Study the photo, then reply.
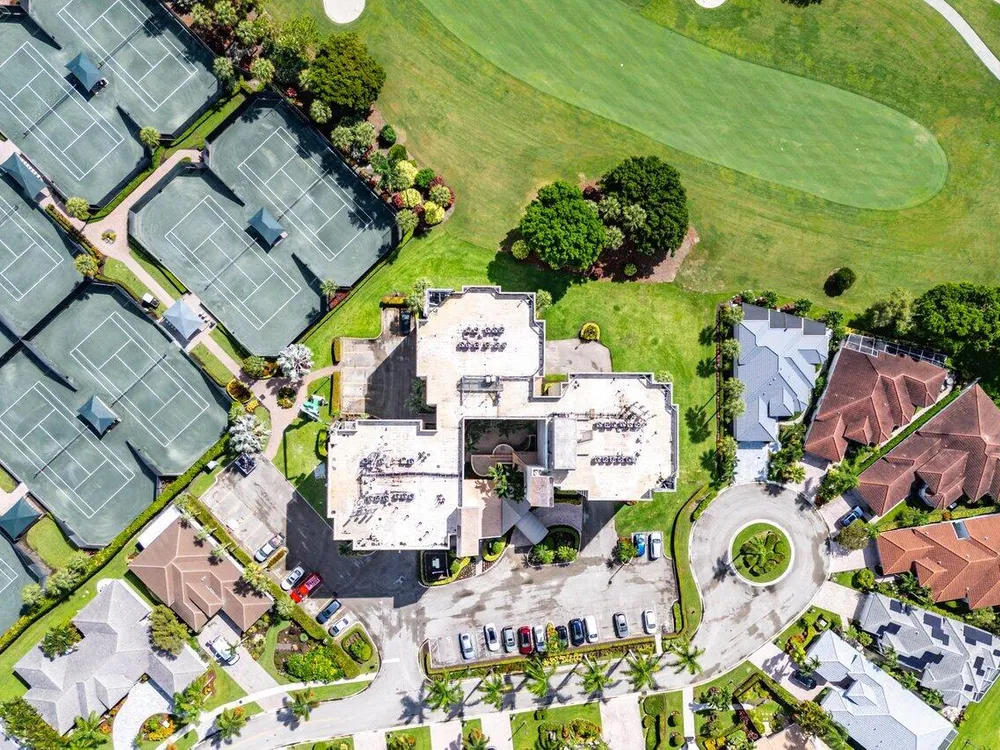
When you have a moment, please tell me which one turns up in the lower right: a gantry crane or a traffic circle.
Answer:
traffic circle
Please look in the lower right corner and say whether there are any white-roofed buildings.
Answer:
Yes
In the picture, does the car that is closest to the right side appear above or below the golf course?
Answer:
below it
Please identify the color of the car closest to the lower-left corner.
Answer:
white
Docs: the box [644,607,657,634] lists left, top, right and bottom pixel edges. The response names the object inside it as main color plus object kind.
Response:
white vehicle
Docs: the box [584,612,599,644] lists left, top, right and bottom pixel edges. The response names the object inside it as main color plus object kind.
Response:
white vehicle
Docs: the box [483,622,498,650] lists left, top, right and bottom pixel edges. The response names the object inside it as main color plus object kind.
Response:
white car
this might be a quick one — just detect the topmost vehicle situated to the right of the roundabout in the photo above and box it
[838,504,865,525]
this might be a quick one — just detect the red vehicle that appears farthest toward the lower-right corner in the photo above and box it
[519,625,532,653]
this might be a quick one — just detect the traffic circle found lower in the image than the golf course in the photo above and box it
[728,519,795,586]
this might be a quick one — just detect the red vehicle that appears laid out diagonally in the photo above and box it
[292,570,321,603]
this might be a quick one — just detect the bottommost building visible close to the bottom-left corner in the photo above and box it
[14,577,208,735]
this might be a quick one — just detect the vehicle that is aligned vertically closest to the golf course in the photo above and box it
[397,308,411,335]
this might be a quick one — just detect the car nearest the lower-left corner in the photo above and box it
[209,635,235,664]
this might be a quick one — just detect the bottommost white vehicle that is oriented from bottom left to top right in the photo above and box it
[331,613,354,639]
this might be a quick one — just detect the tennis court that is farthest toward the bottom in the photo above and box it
[0,540,36,633]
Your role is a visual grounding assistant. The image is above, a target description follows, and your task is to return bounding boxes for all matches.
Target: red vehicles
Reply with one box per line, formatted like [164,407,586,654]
[519,625,532,653]
[292,570,321,603]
